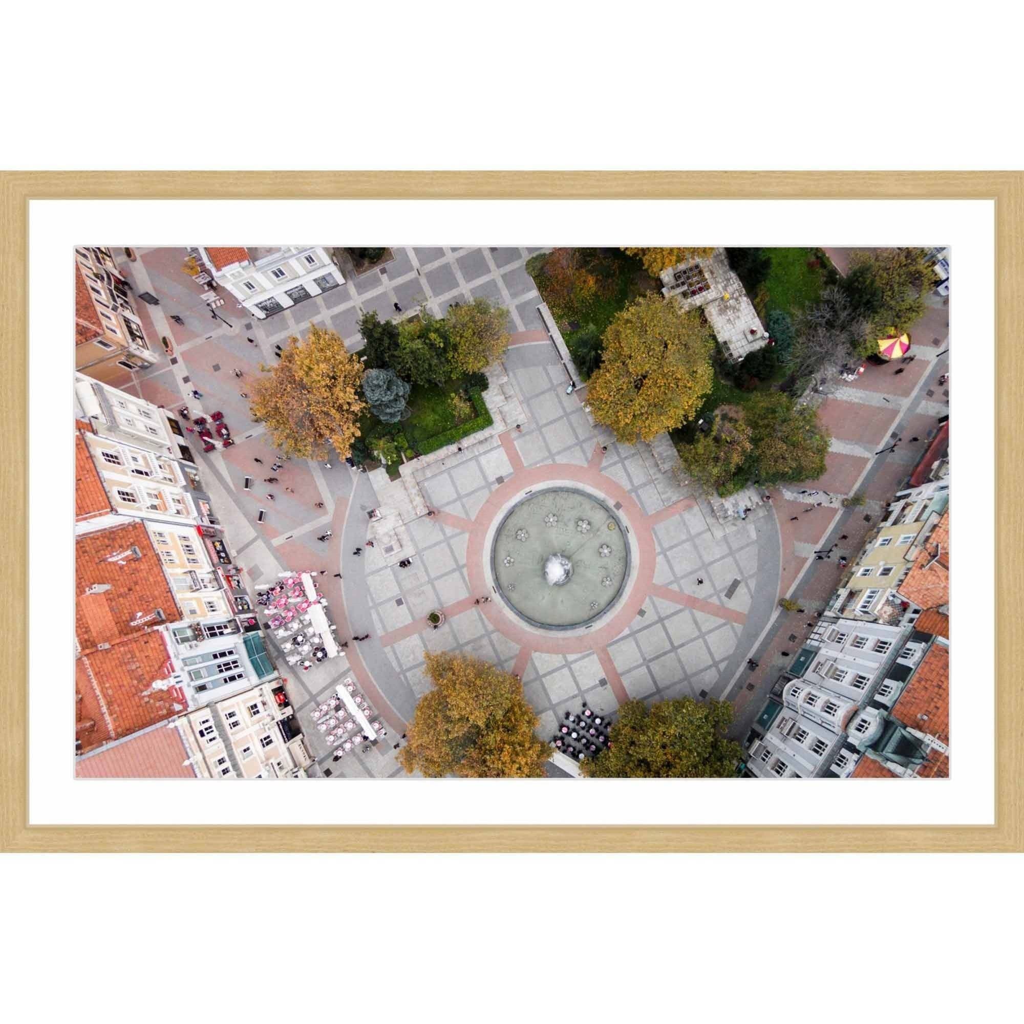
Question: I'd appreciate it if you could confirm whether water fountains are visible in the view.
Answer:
Yes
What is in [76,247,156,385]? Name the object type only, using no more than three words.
house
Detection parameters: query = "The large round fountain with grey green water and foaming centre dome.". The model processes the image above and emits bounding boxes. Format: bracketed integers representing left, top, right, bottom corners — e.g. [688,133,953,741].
[482,480,640,638]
